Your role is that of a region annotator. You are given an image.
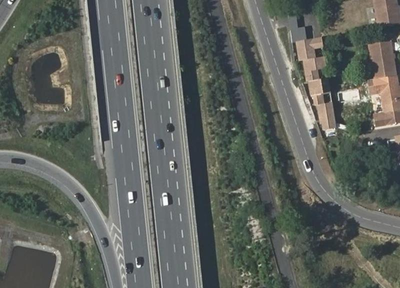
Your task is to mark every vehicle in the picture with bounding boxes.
[304,159,312,172]
[162,192,168,206]
[112,120,118,132]
[126,262,132,274]
[75,192,84,203]
[336,124,348,130]
[136,256,142,268]
[154,8,160,20]
[116,74,122,85]
[166,122,172,133]
[158,76,166,89]
[169,160,175,172]
[128,191,134,204]
[143,6,149,16]
[310,127,316,138]
[12,158,24,164]
[101,236,108,248]
[366,138,378,145]
[156,138,162,150]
